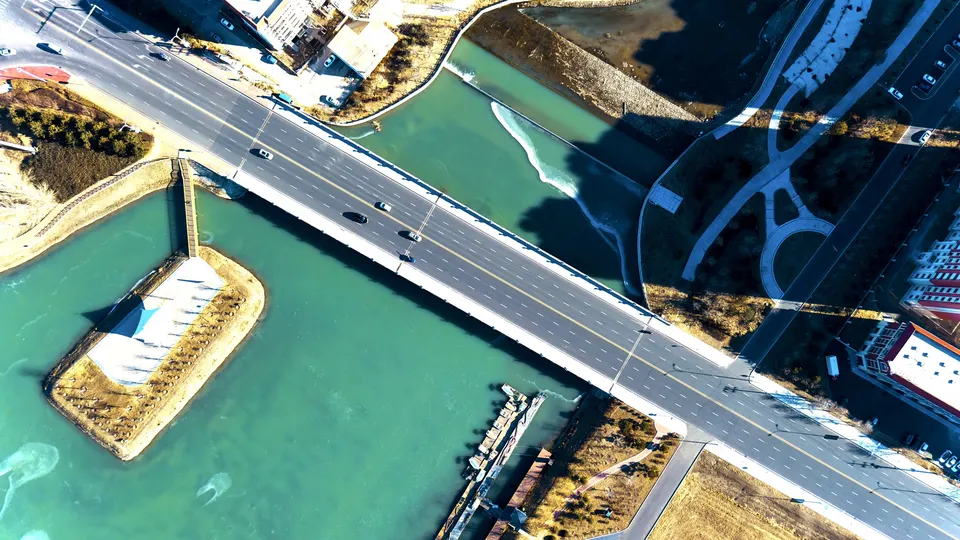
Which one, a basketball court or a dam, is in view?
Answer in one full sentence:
Of the two, only a dam appears.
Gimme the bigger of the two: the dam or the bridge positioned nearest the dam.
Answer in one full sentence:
Compared with the dam, the bridge is the bigger one.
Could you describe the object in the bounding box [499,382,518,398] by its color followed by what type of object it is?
white boat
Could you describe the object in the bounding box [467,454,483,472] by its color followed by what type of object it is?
white boat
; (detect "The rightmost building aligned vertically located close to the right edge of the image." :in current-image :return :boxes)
[905,191,960,318]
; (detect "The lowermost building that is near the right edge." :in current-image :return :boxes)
[841,312,960,429]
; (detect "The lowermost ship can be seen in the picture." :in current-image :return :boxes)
[432,480,476,540]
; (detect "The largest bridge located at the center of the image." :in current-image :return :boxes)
[229,100,656,396]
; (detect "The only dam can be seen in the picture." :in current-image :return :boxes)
[442,4,705,191]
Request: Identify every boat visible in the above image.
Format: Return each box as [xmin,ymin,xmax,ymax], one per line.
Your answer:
[517,399,530,414]
[510,395,521,403]
[473,470,488,485]
[499,382,518,398]
[498,408,512,420]
[475,442,490,455]
[483,427,501,442]
[467,454,483,472]
[488,446,501,461]
[461,465,475,483]
[490,418,506,431]
[503,400,518,413]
